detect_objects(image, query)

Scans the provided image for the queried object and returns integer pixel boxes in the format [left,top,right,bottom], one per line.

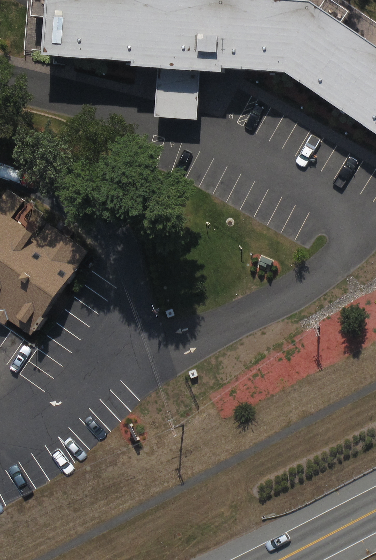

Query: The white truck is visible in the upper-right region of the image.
[296,134,321,167]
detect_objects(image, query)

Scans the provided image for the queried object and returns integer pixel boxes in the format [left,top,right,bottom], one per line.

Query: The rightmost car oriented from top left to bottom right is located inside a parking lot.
[84,414,107,443]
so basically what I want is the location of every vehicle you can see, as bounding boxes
[174,148,192,177]
[52,446,75,476]
[9,463,33,500]
[9,345,30,375]
[244,102,266,132]
[296,134,321,167]
[84,414,107,443]
[65,435,87,463]
[264,532,292,553]
[334,155,358,189]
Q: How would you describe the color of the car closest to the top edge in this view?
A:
black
